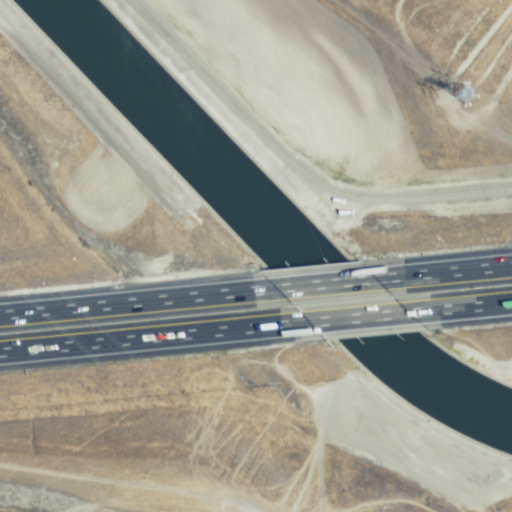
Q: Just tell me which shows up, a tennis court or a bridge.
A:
bridge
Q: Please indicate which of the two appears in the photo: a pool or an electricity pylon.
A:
electricity pylon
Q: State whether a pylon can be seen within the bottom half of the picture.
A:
No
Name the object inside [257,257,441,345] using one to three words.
bridge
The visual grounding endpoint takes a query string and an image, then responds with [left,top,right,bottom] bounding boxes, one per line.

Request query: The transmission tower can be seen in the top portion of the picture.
[456,77,481,108]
